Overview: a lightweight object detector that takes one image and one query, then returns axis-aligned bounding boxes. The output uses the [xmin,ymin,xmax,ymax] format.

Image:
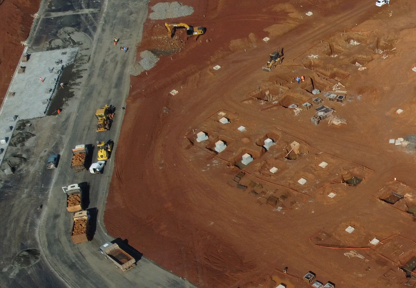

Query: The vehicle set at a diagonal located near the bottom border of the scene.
[99,240,134,274]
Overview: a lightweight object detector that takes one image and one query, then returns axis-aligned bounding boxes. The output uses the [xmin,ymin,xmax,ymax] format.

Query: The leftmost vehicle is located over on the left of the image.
[44,155,61,170]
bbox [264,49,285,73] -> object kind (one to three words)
work vehicle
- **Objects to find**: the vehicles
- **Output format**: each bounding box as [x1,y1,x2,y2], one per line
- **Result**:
[93,105,113,132]
[44,155,61,170]
[69,143,91,175]
[63,182,84,216]
[168,23,207,41]
[86,159,109,175]
[99,240,134,274]
[70,209,92,246]
[95,141,108,159]
[264,49,285,73]
[375,0,391,7]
